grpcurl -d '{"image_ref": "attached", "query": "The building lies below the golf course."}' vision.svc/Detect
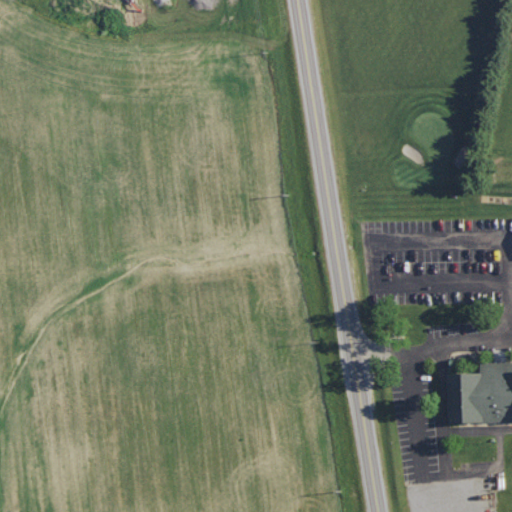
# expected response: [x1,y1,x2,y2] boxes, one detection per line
[462,363,512,425]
